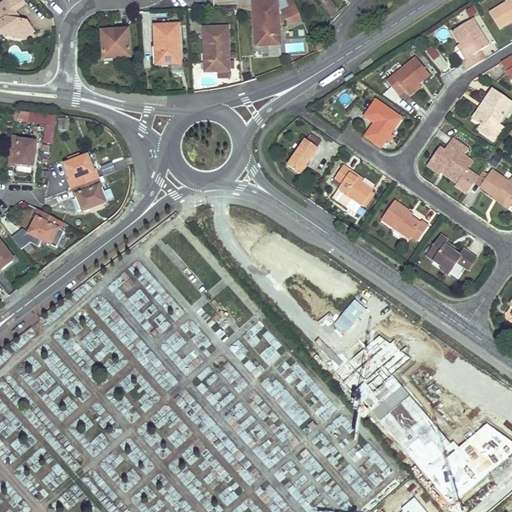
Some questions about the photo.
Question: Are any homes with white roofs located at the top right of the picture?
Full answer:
Yes, looking at the top right of the picture, one can make out a home with a white roof.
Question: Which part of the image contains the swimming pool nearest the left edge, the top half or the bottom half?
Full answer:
The swimming pool nearest the left edge sits in the top half of the picture.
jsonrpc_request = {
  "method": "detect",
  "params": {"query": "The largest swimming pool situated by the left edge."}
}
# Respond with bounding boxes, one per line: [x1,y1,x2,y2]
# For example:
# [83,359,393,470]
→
[8,44,32,64]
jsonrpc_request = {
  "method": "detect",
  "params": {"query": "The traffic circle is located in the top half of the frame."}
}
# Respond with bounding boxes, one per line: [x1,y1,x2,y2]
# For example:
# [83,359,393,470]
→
[118,96,278,204]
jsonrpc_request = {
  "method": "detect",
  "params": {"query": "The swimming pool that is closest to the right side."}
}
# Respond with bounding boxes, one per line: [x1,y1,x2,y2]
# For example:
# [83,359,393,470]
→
[436,27,450,41]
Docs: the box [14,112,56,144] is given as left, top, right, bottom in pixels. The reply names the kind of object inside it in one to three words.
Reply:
shed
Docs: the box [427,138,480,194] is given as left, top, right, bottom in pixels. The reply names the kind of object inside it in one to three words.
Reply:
house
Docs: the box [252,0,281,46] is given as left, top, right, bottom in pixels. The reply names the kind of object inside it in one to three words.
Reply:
house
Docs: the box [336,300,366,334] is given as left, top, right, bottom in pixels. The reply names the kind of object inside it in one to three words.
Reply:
building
